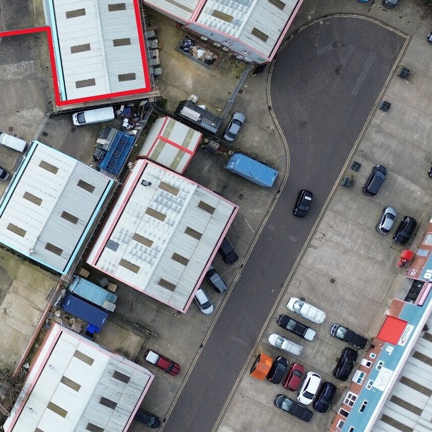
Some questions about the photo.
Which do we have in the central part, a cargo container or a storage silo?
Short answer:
cargo container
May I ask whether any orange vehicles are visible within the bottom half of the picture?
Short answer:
Yes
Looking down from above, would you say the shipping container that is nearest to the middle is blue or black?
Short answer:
blue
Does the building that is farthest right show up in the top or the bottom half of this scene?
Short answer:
bottom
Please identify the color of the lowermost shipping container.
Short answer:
blue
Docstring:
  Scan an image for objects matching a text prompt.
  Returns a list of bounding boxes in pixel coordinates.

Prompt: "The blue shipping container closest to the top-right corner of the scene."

[226,153,278,187]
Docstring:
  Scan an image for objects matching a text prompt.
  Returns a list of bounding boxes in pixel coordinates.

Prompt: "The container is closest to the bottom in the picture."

[61,291,109,329]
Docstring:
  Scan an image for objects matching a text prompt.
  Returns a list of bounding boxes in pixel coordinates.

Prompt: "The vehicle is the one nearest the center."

[220,236,240,264]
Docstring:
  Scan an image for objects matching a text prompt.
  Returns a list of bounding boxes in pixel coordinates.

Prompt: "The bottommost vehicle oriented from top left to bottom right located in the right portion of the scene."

[271,392,317,427]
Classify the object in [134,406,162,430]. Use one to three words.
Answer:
car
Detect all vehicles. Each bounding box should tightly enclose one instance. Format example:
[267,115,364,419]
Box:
[327,323,370,354]
[248,352,273,380]
[392,214,420,246]
[0,166,11,183]
[282,360,305,394]
[205,264,230,295]
[334,346,357,381]
[264,332,307,359]
[290,188,315,218]
[70,105,118,127]
[142,346,182,376]
[266,354,287,385]
[284,296,329,327]
[296,369,324,406]
[194,286,214,316]
[271,392,317,427]
[274,314,320,344]
[134,406,162,430]
[223,111,245,144]
[361,164,387,198]
[220,236,240,264]
[0,127,28,154]
[313,379,339,413]
[382,0,401,10]
[374,205,398,236]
